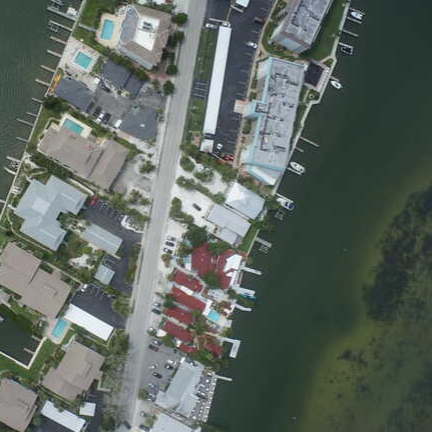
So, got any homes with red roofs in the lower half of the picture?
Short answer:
Yes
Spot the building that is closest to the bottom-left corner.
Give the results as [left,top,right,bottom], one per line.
[0,375,39,432]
